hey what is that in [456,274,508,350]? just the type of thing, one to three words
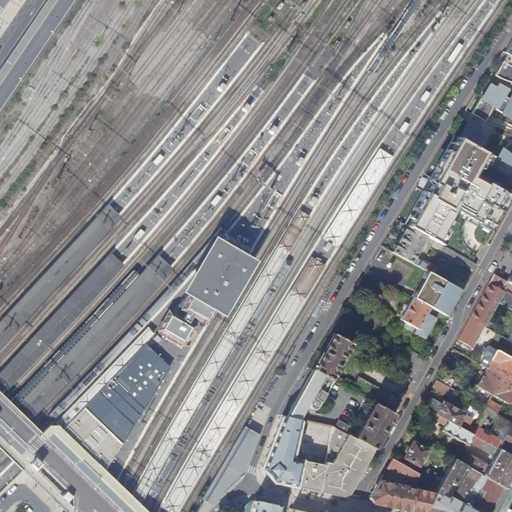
house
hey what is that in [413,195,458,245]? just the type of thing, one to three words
building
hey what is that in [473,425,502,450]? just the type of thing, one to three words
house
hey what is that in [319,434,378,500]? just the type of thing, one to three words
building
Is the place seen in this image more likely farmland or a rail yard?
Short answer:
rail yard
